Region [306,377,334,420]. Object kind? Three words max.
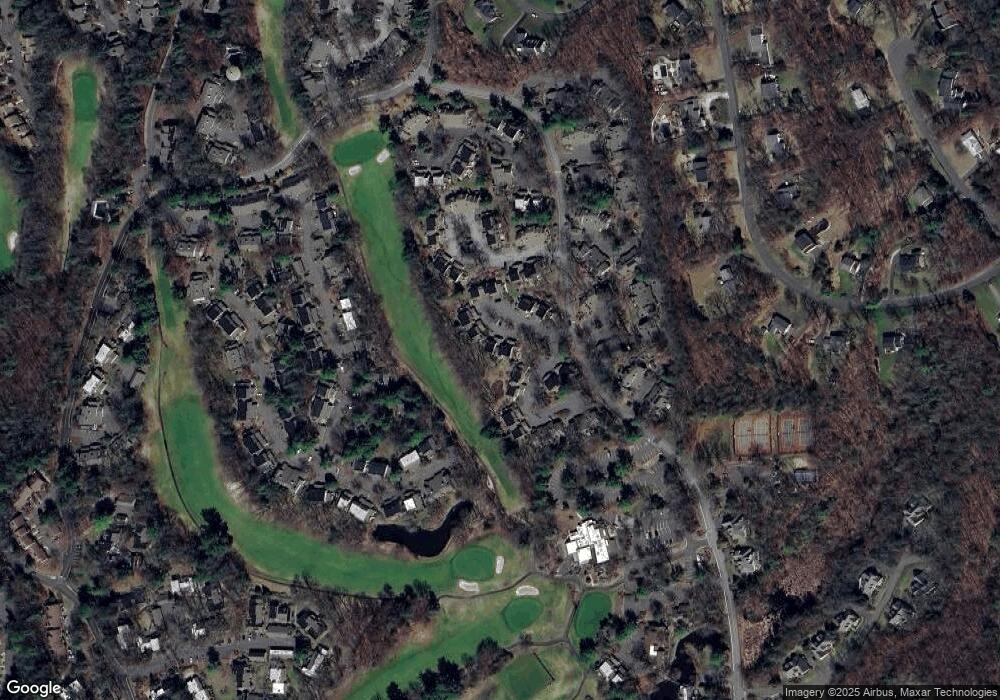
house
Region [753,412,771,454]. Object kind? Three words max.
tennis court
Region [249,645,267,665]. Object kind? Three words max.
house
